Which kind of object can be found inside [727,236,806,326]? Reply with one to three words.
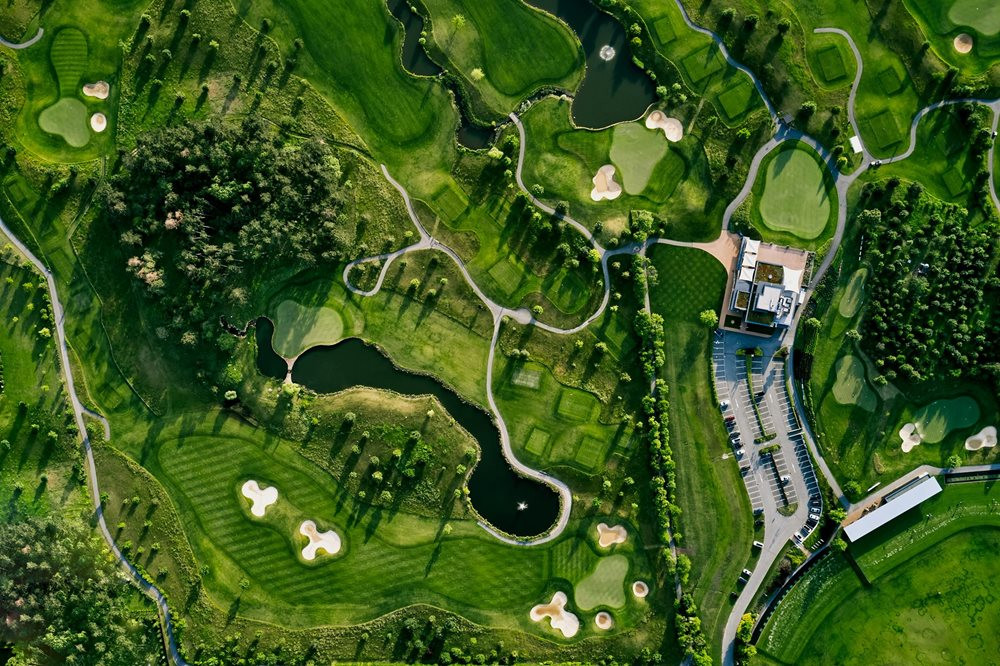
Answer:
building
